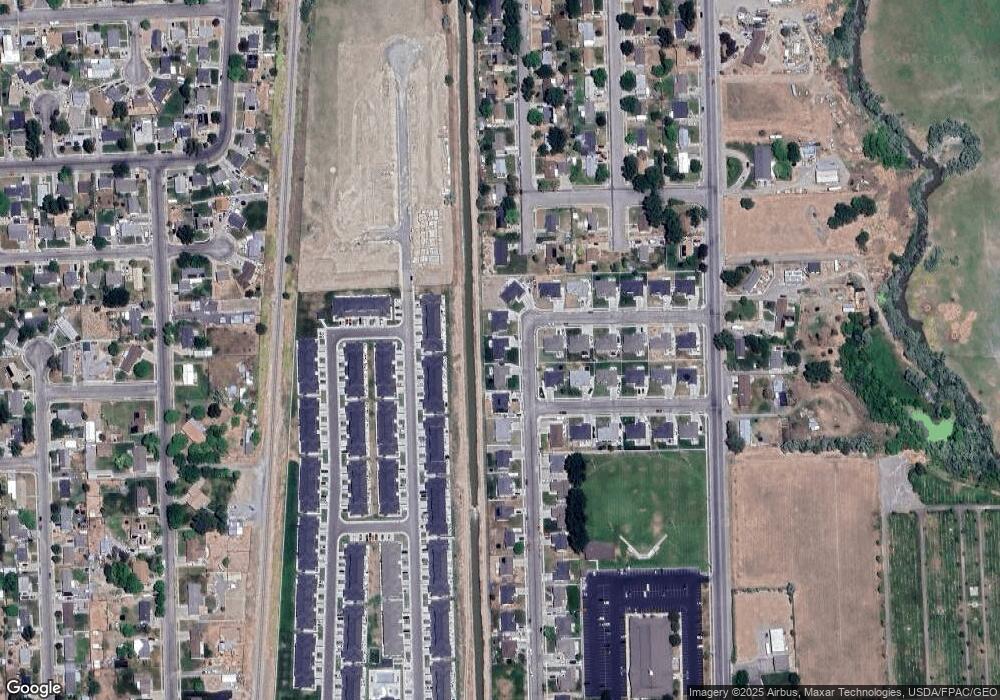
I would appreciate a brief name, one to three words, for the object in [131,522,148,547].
house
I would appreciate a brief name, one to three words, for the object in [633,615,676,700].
building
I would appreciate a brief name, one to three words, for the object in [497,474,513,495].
house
